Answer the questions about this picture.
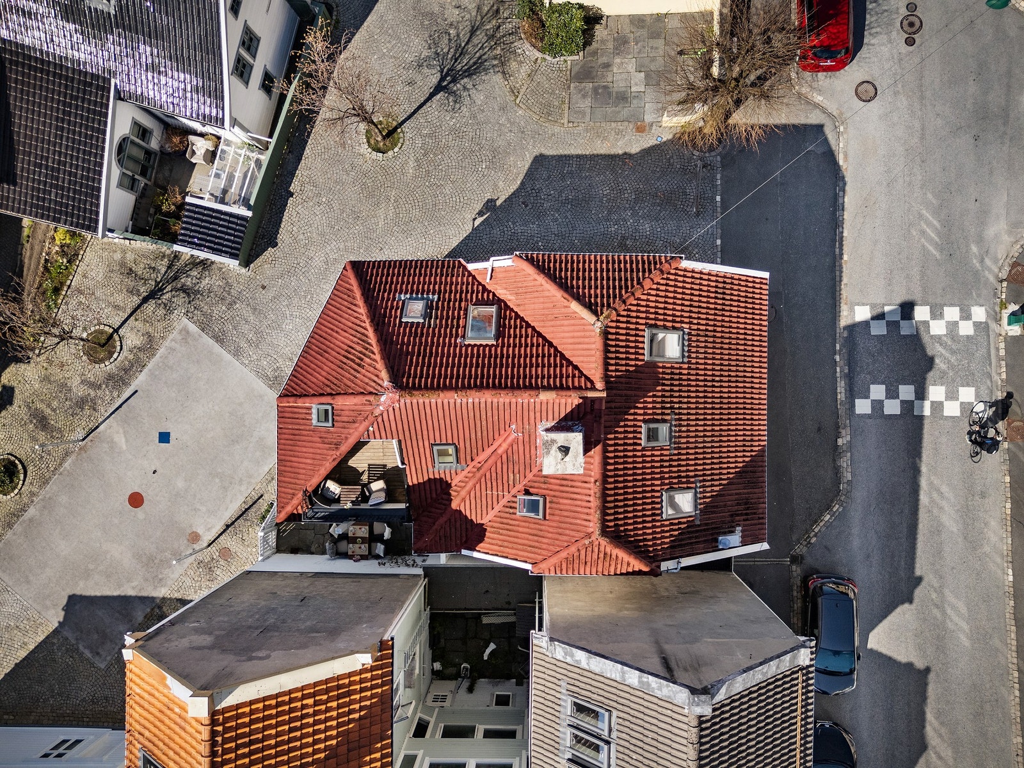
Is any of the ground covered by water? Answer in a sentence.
No, no water is visible.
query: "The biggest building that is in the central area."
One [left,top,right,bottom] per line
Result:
[273,250,772,578]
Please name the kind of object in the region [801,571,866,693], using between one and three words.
car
